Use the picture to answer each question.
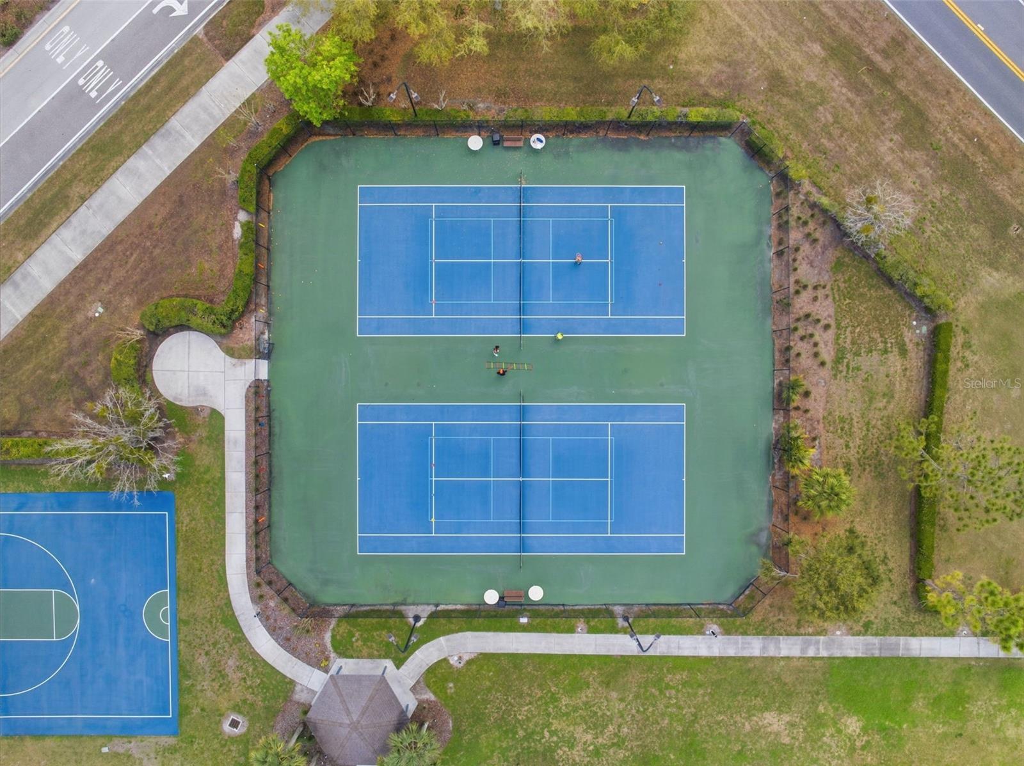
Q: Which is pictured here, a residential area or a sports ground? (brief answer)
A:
sports ground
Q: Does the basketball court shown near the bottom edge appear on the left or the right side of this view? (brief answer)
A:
left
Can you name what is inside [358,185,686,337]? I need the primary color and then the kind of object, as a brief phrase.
blue tennis court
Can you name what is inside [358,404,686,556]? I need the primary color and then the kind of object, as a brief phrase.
blue tennis court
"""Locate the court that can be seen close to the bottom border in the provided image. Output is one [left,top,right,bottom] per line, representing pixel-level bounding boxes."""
[0,492,178,738]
